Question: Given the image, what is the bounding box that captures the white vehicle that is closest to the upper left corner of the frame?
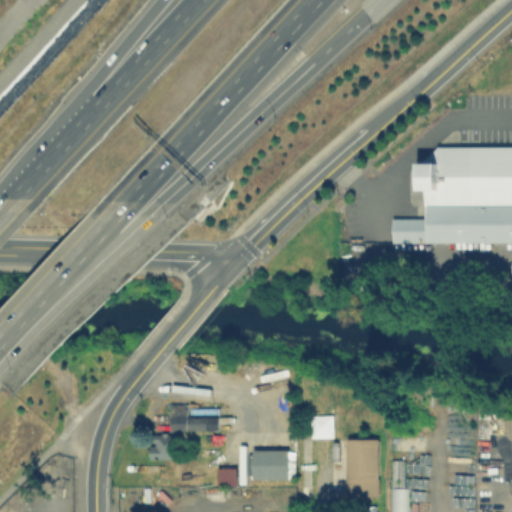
[106,52,120,67]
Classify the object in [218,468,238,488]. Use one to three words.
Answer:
shed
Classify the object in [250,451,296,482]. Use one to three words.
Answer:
barn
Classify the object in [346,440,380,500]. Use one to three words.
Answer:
building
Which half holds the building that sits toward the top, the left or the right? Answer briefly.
right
